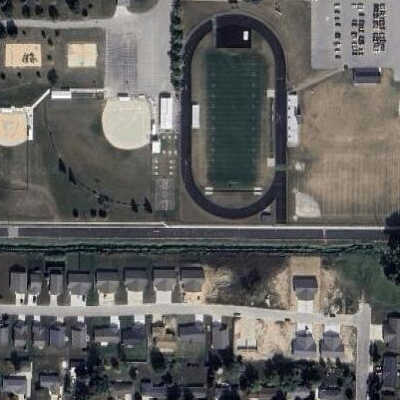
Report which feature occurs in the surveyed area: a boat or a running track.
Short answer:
running track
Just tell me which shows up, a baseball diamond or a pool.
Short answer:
baseball diamond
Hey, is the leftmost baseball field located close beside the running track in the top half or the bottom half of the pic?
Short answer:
top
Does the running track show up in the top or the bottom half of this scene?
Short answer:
top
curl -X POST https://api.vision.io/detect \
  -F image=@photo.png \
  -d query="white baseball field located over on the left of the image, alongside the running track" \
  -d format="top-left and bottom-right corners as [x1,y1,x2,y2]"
[101,97,152,150]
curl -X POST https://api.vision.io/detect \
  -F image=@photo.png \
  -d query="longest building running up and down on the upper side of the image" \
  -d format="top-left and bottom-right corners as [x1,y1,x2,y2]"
[158,100,172,132]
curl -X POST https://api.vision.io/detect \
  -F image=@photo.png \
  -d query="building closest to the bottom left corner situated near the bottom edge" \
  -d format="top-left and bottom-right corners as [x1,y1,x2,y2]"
[2,379,26,394]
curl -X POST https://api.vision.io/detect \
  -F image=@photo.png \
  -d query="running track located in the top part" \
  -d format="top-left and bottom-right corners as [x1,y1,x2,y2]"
[179,11,288,222]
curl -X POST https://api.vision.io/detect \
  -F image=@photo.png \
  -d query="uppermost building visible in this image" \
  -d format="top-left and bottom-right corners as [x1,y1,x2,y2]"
[351,68,381,83]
